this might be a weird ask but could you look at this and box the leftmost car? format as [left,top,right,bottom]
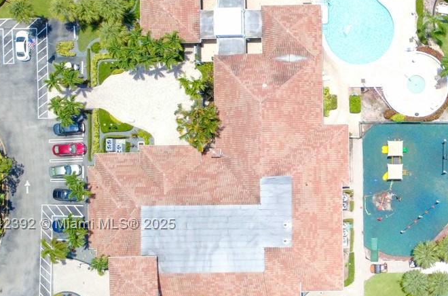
[14,31,32,62]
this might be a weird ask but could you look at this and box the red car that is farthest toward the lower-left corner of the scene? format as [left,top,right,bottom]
[53,142,87,157]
